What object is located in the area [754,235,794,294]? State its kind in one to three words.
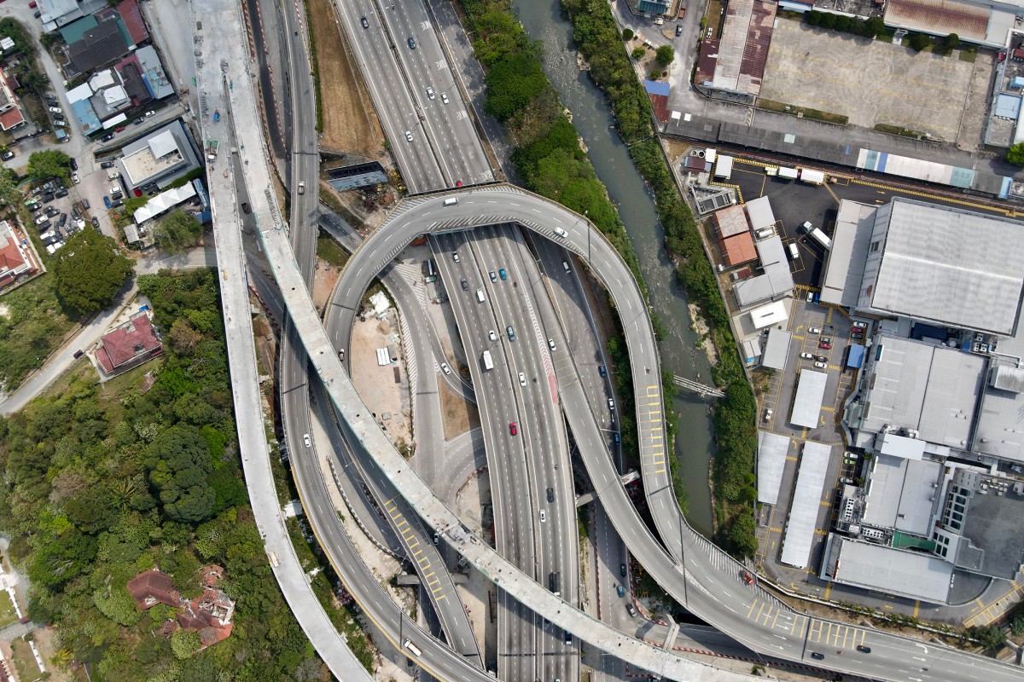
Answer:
building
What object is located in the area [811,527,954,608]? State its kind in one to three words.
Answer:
building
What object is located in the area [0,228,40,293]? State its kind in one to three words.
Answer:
house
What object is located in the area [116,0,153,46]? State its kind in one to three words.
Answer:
shed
